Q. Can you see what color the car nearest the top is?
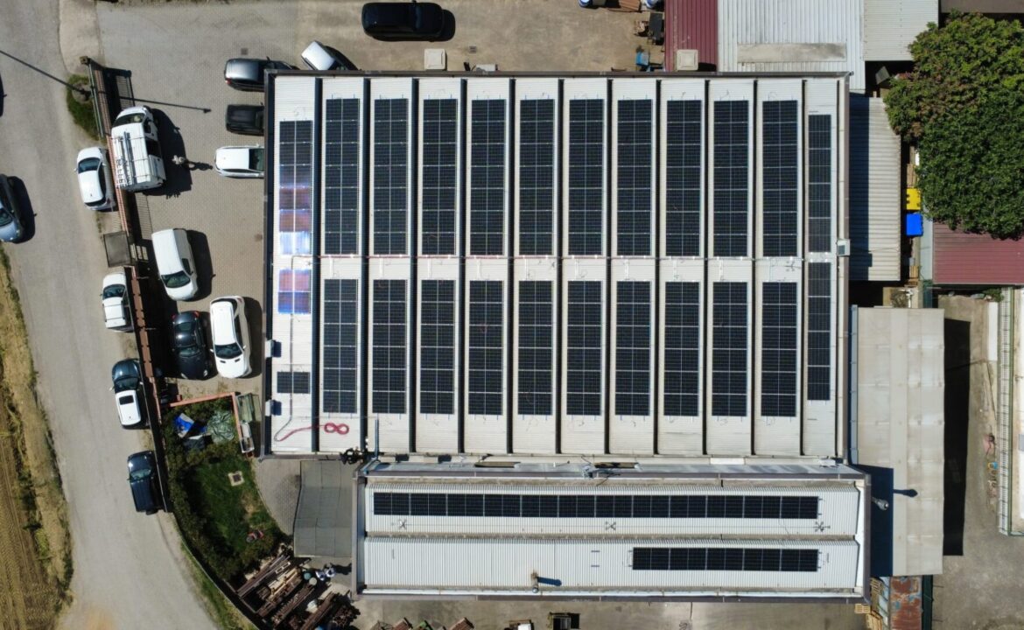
black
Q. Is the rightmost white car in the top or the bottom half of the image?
top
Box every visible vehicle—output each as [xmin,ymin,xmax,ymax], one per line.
[0,171,24,244]
[212,298,252,379]
[152,230,199,303]
[172,309,211,381]
[110,357,150,430]
[74,146,117,213]
[214,144,264,179]
[362,0,445,41]
[99,270,132,333]
[225,56,304,92]
[226,105,264,137]
[127,447,166,515]
[114,107,166,195]
[302,41,356,70]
